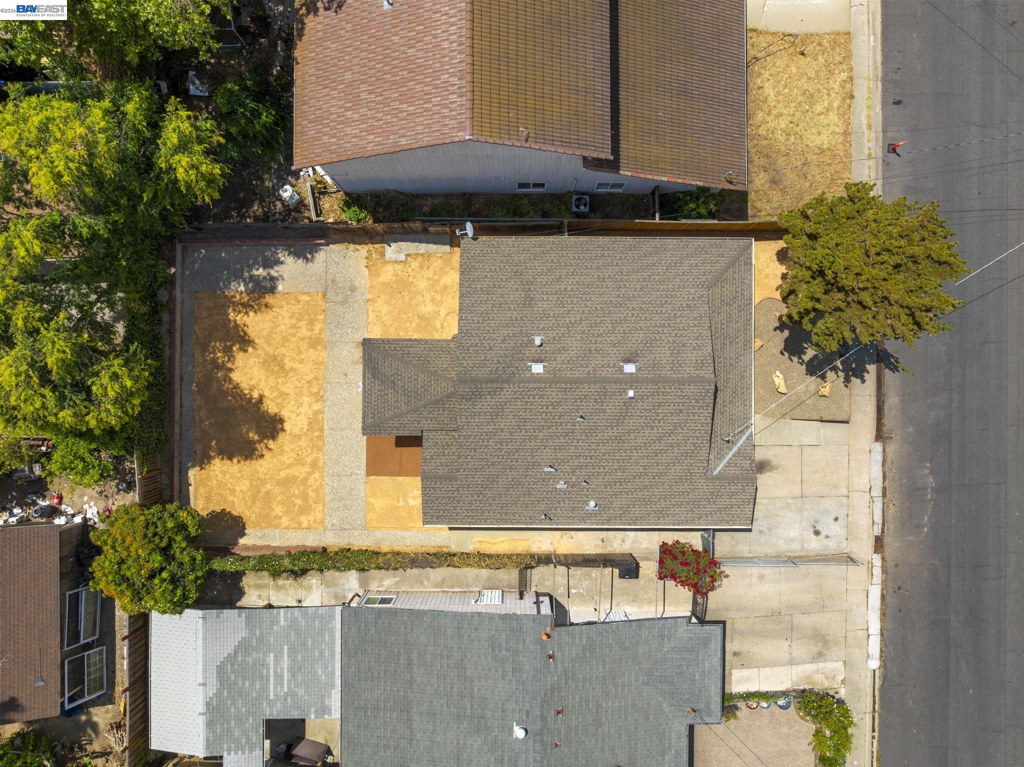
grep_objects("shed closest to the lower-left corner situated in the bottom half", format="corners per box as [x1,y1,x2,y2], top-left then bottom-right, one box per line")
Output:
[0,518,113,733]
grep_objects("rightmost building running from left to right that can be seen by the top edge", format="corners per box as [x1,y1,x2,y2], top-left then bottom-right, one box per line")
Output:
[291,0,749,194]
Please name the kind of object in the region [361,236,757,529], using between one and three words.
house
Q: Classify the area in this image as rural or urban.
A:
urban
